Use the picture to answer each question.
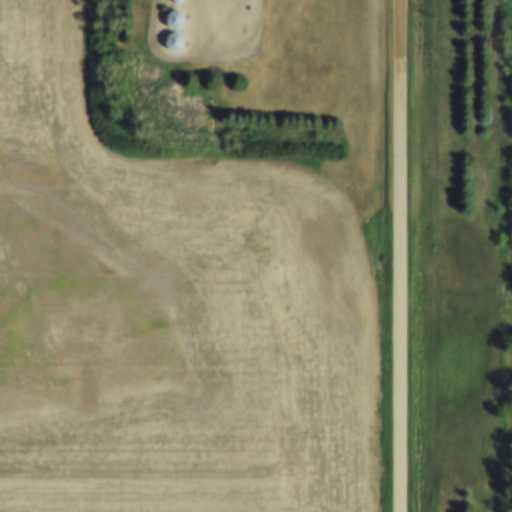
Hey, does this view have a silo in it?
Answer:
Yes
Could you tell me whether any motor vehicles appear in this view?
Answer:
No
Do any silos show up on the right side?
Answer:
No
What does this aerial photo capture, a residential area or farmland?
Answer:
farmland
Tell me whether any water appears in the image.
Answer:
No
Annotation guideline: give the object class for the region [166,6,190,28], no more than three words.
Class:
silo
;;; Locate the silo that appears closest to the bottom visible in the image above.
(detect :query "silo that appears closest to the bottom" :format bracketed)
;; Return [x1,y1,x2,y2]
[166,30,189,51]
